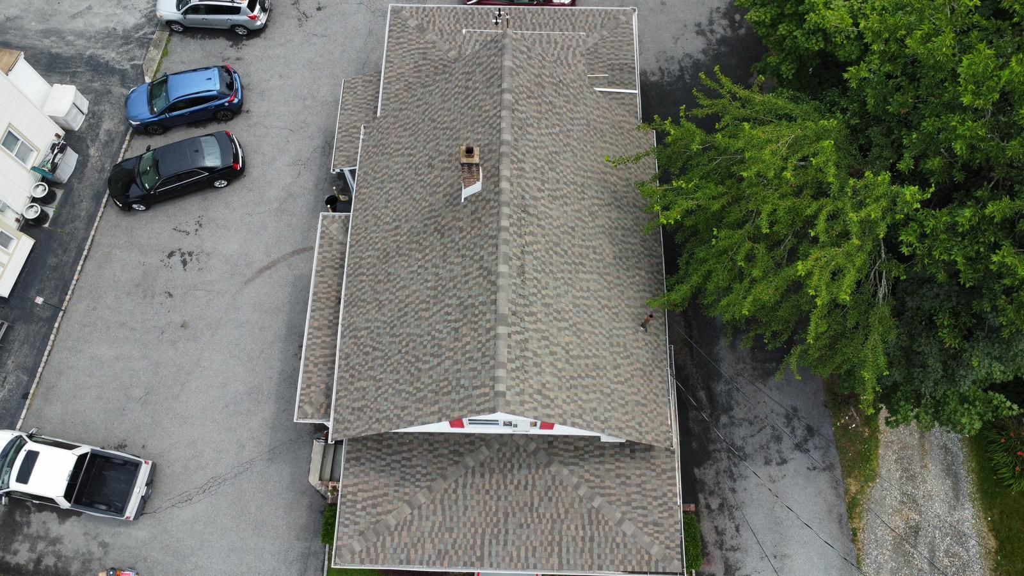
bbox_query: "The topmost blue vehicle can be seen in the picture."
[126,63,248,134]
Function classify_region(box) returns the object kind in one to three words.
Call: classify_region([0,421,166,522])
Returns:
truck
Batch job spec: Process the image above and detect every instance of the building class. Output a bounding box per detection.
[291,1,694,576]
[0,45,62,326]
